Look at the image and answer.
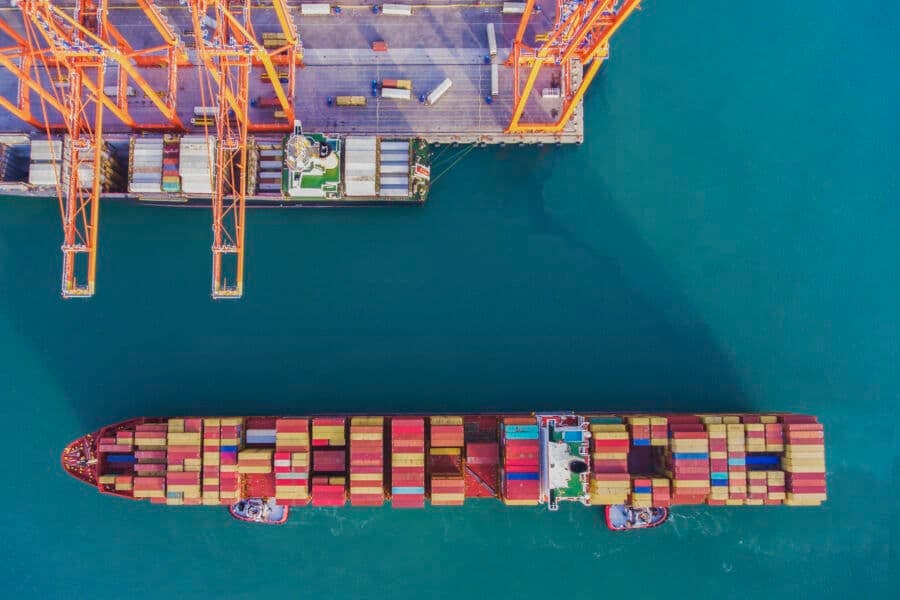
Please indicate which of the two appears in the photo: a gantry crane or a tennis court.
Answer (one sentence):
This aerial view contains a gantry crane.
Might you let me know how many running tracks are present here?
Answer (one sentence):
Not a single running track can be seen.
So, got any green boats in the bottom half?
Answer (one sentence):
No, the scene shows no green boat in the bottom half.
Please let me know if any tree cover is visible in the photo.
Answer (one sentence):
No, tree cover can't be seen anywhere here.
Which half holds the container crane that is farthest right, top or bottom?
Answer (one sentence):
The container crane that is farthest right sits in the top half of the picture.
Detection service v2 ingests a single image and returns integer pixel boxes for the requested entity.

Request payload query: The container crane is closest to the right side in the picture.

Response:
[503,0,639,129]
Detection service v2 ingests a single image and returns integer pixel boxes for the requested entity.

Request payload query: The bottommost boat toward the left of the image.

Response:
[228,499,291,524]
